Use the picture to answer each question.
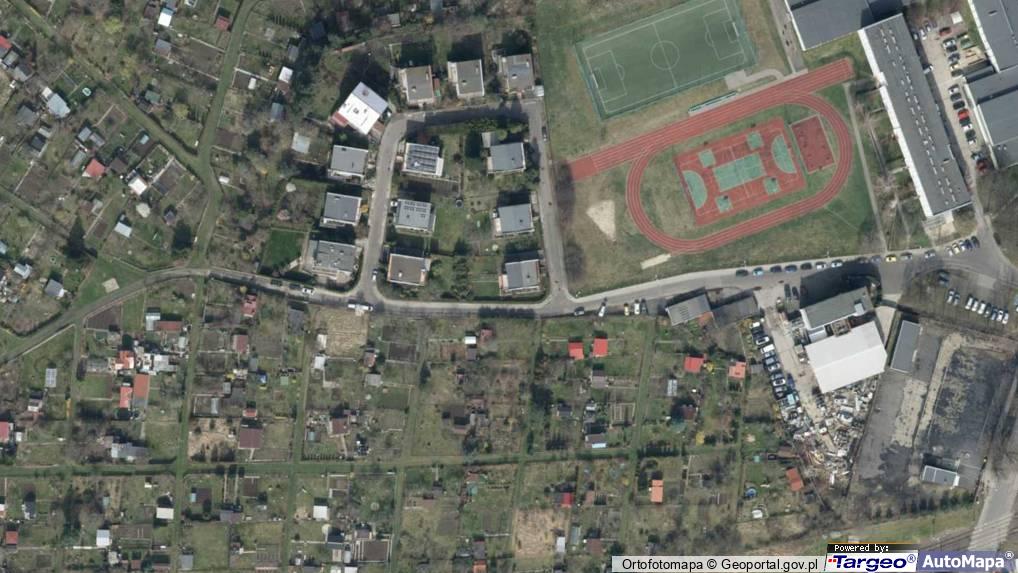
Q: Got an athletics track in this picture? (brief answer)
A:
Yes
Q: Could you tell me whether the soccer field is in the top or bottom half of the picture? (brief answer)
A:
top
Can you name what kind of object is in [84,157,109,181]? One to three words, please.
shed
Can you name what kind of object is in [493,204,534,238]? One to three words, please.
house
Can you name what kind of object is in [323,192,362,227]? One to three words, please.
house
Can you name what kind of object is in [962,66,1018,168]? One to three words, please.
building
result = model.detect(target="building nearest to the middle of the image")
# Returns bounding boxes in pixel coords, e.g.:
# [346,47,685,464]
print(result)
[500,260,540,294]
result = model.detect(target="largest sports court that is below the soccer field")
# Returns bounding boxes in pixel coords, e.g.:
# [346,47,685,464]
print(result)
[675,116,806,225]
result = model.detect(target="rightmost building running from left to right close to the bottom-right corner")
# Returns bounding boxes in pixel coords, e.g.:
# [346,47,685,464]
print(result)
[919,466,958,486]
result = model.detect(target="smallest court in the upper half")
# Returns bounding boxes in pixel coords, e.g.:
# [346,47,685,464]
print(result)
[790,114,835,173]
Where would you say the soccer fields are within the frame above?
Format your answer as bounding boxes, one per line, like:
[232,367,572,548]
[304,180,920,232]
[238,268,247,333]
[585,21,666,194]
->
[575,0,756,119]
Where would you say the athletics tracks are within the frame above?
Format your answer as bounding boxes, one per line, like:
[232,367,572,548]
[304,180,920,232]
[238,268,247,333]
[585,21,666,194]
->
[568,58,855,253]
